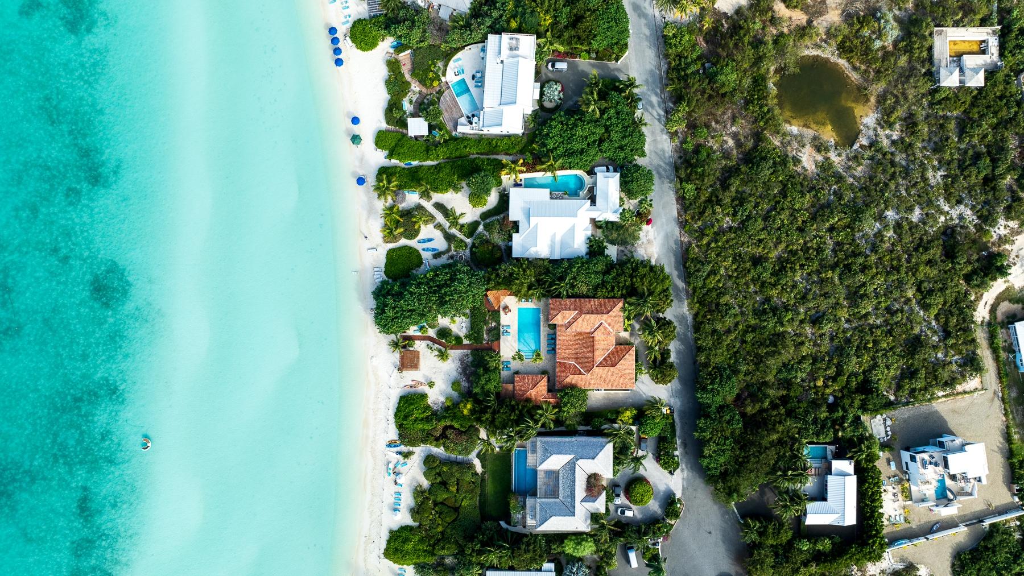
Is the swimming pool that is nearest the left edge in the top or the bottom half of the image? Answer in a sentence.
The swimming pool that is nearest the left edge is in the top half of the image.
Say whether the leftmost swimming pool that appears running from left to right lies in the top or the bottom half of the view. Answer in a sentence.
It is in the top half that the leftmost swimming pool that appears running from left to right appears.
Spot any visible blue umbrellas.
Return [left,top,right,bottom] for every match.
[329,27,338,36]
[333,47,343,57]
[357,177,366,186]
[351,116,360,125]
[335,58,344,67]
[331,37,340,46]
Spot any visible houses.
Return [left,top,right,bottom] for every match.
[509,172,623,259]
[802,459,857,526]
[526,436,613,531]
[1008,320,1024,373]
[928,26,1004,89]
[549,298,635,392]
[431,0,472,22]
[457,33,540,136]
[900,430,989,516]
[486,563,555,576]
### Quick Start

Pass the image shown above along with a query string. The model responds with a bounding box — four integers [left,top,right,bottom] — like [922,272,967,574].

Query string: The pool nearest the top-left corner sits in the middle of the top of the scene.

[448,75,481,117]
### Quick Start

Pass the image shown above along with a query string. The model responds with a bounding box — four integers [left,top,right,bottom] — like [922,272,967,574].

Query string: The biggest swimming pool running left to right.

[523,173,586,197]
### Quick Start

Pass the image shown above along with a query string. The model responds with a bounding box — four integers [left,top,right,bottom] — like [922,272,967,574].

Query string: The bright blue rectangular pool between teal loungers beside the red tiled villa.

[517,307,542,361]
